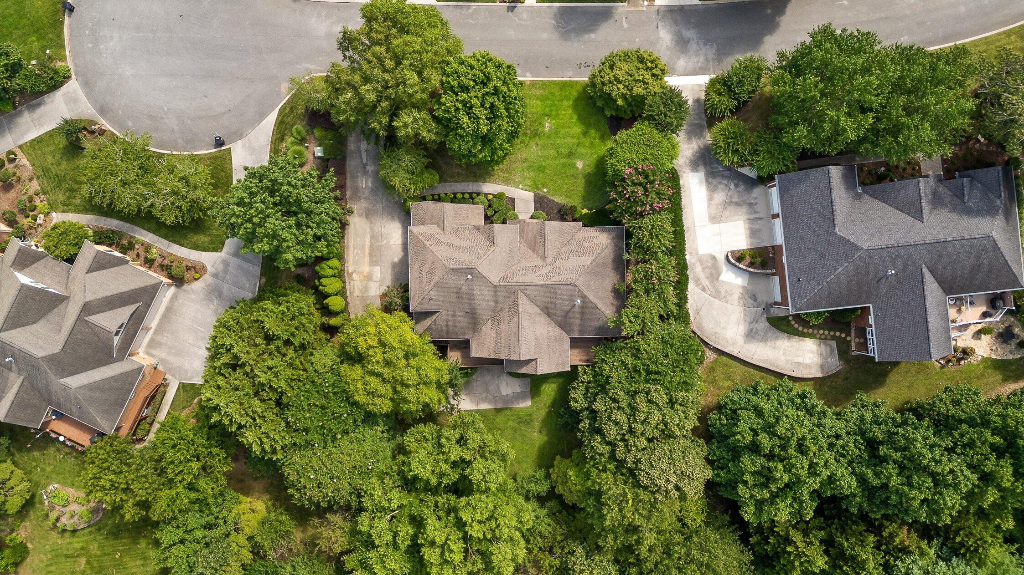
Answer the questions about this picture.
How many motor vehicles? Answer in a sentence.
The photo contains no motor vehicles.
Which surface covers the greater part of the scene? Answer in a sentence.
The largest share of the image is taken up by trees.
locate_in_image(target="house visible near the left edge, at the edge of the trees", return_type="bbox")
[0,236,172,451]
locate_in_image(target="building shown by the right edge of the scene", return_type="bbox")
[767,165,1024,362]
